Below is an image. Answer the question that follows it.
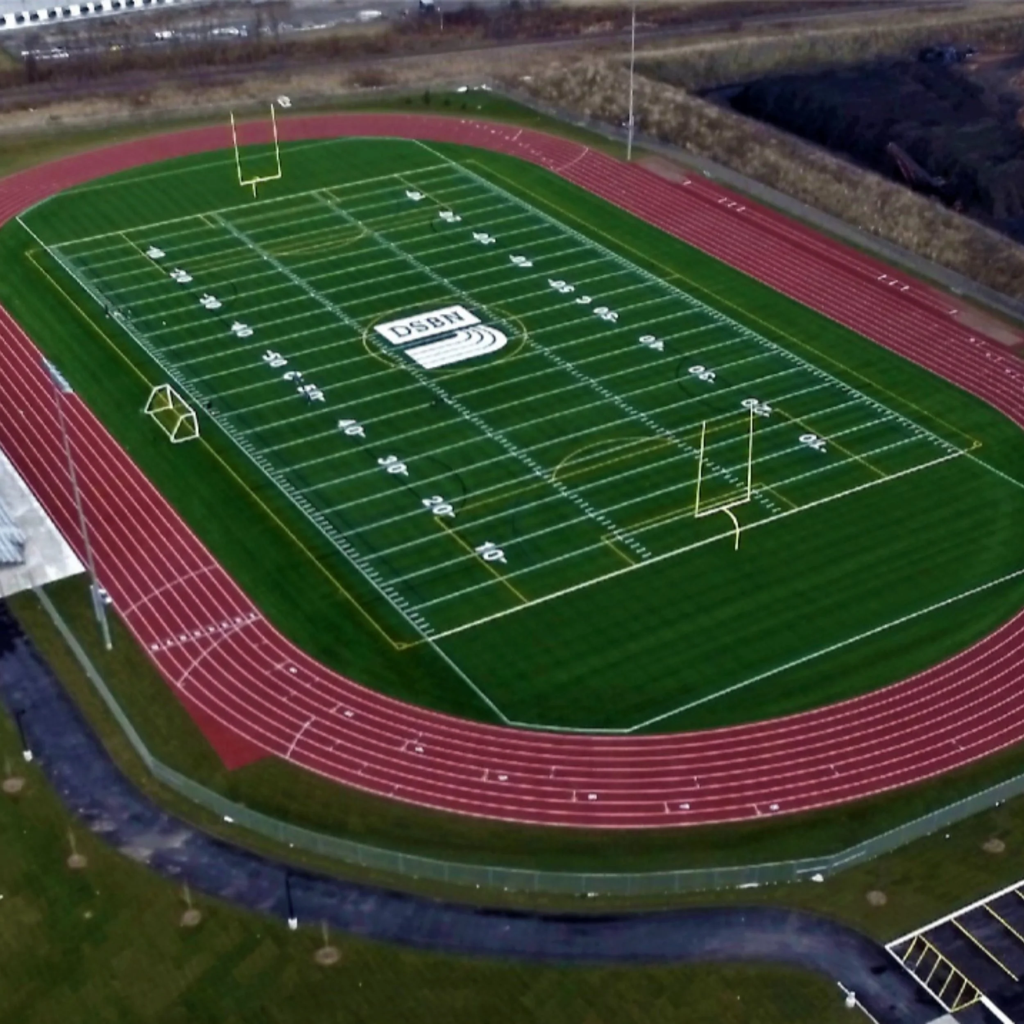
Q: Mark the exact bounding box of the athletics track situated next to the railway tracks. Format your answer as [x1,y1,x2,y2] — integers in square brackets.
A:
[0,116,1024,825]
